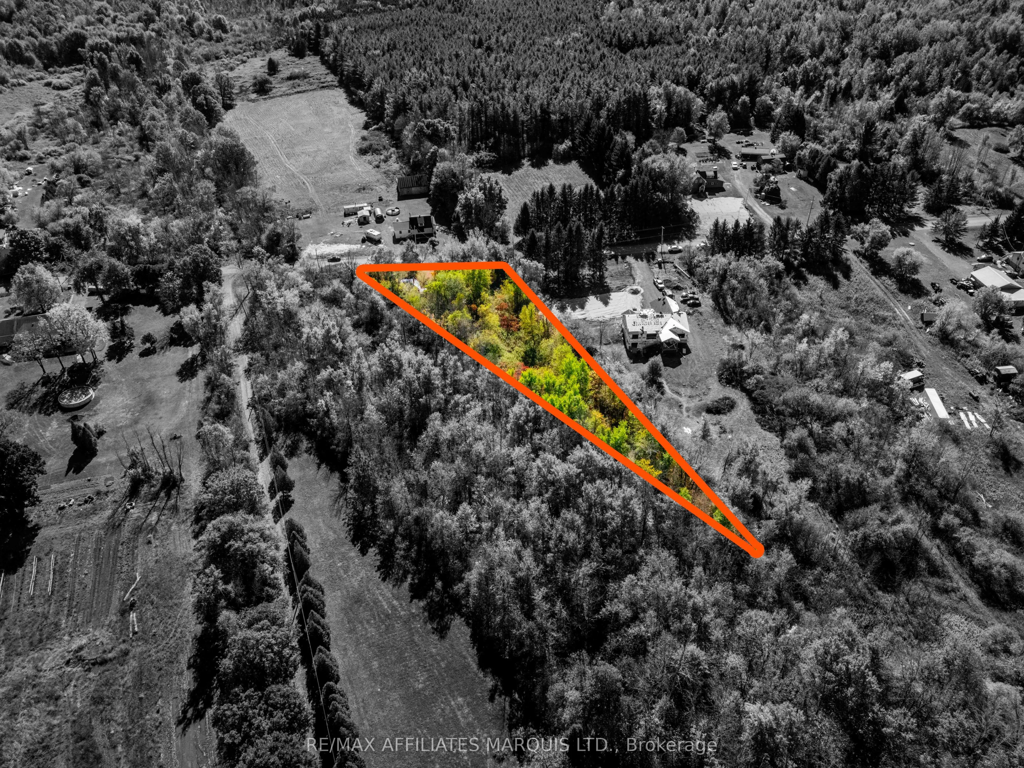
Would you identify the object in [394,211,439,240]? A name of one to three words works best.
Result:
house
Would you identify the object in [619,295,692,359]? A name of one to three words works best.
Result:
house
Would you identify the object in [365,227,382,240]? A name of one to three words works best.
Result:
vehicle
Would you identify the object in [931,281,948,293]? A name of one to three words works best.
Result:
vehicle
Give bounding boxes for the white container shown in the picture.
[922,388,951,428]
